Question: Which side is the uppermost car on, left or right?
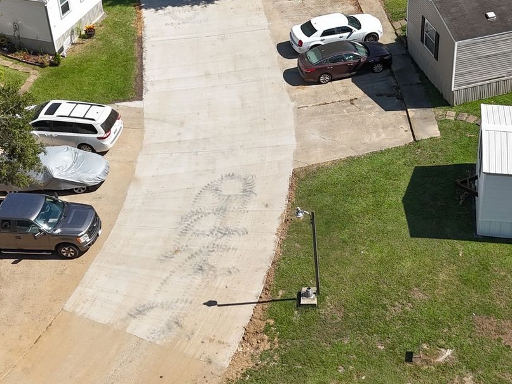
right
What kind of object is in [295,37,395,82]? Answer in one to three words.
car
